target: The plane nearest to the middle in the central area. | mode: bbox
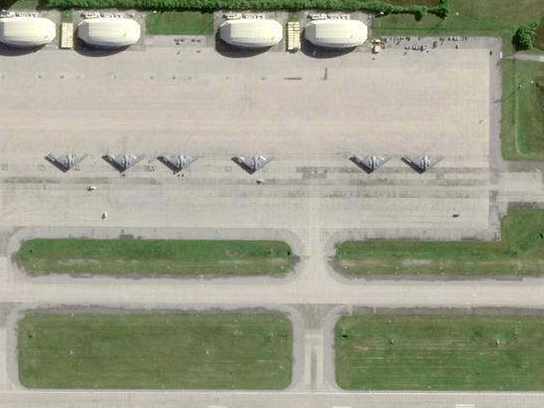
[236,156,276,172]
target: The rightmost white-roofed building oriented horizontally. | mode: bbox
[304,21,367,52]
